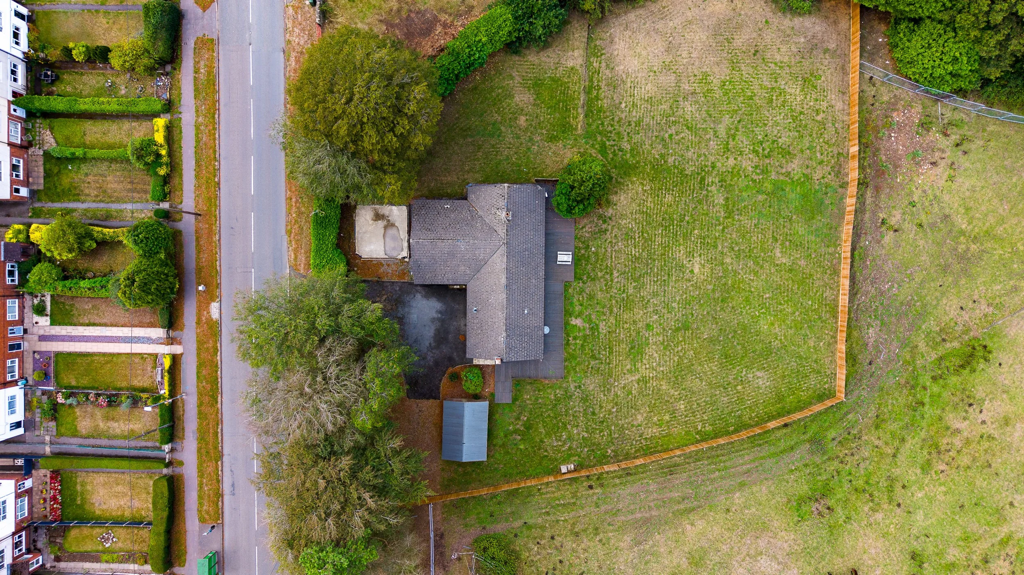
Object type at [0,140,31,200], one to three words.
house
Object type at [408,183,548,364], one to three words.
house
